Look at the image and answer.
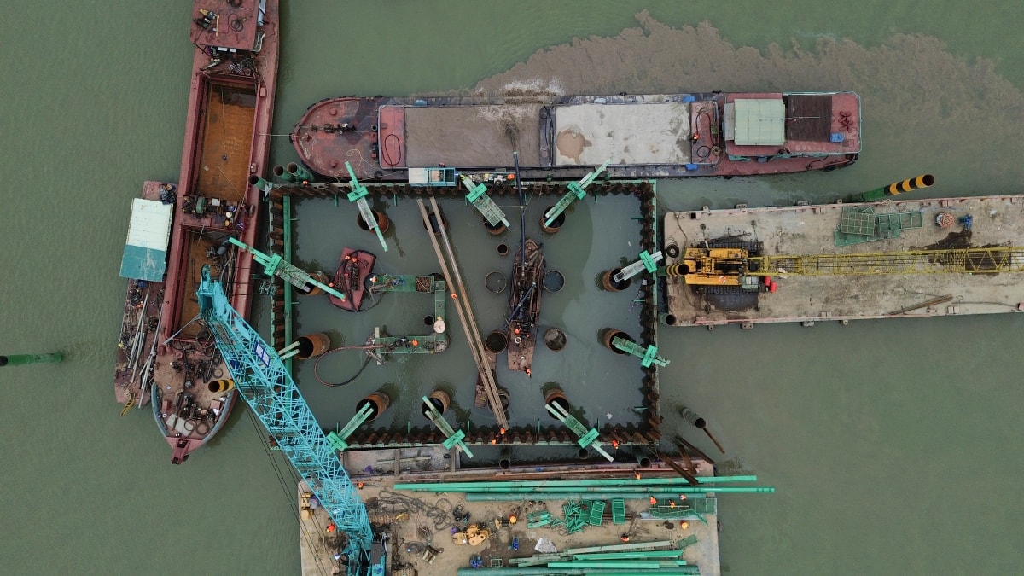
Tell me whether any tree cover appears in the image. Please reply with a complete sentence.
No, there is no tree cover in the image.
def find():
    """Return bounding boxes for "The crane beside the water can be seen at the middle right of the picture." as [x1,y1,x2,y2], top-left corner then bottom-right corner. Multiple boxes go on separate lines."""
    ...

[679,239,1024,294]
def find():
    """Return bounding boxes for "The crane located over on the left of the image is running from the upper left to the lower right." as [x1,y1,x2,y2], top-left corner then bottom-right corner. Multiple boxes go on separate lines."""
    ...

[192,269,417,576]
